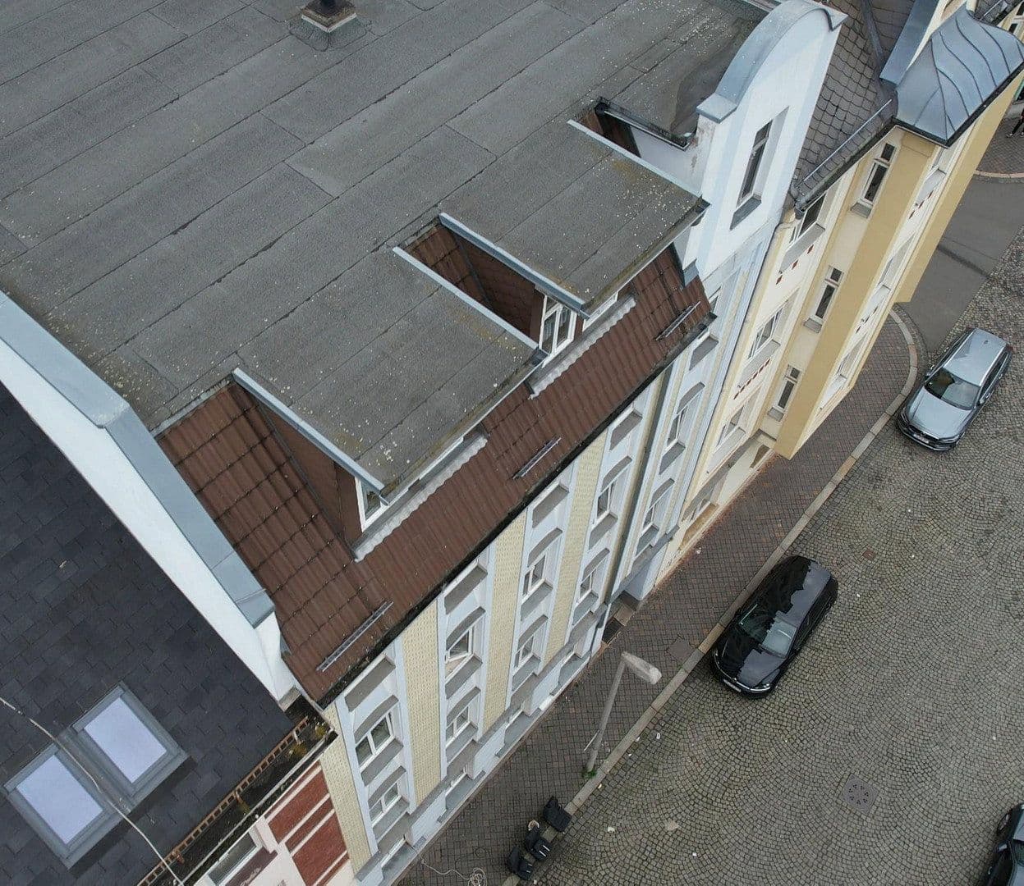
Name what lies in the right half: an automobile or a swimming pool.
automobile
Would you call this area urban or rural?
urban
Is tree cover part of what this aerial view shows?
No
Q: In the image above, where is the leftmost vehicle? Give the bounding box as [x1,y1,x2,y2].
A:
[713,560,841,702]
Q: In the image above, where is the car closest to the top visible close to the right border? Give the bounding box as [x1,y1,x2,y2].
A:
[901,333,1017,457]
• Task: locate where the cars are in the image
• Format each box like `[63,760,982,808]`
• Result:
[901,333,1017,457]
[973,813,1024,886]
[713,560,841,702]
